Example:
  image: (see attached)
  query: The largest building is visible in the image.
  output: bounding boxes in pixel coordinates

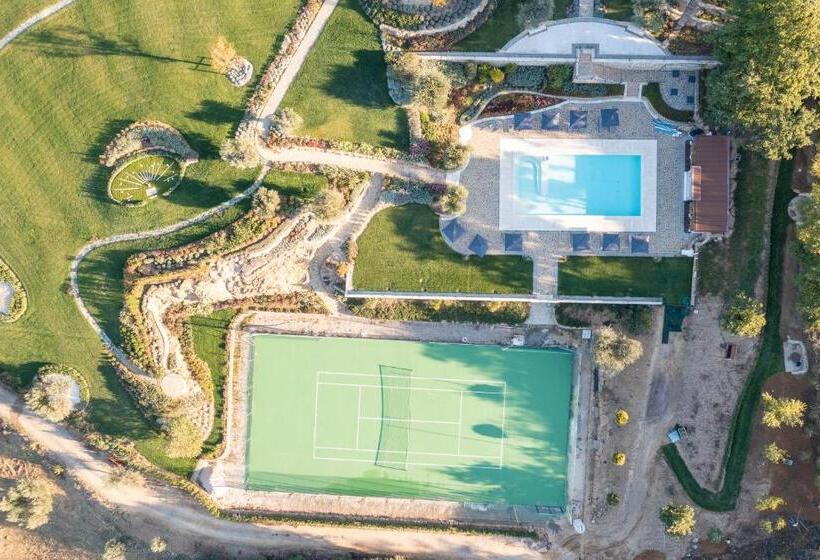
[680,136,732,234]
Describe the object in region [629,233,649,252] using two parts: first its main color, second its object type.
blue umbrella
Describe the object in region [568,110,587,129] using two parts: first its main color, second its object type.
blue umbrella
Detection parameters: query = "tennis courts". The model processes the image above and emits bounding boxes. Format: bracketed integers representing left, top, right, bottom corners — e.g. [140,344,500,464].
[246,335,574,507]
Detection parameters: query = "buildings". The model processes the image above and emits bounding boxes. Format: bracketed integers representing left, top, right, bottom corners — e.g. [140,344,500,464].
[670,425,689,445]
[680,136,732,234]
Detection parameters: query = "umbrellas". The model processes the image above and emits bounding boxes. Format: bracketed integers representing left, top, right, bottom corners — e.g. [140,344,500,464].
[465,232,490,256]
[568,110,587,129]
[600,232,620,252]
[570,232,589,251]
[503,232,522,252]
[540,110,560,130]
[629,233,649,252]
[599,108,618,127]
[440,217,466,244]
[512,111,531,130]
